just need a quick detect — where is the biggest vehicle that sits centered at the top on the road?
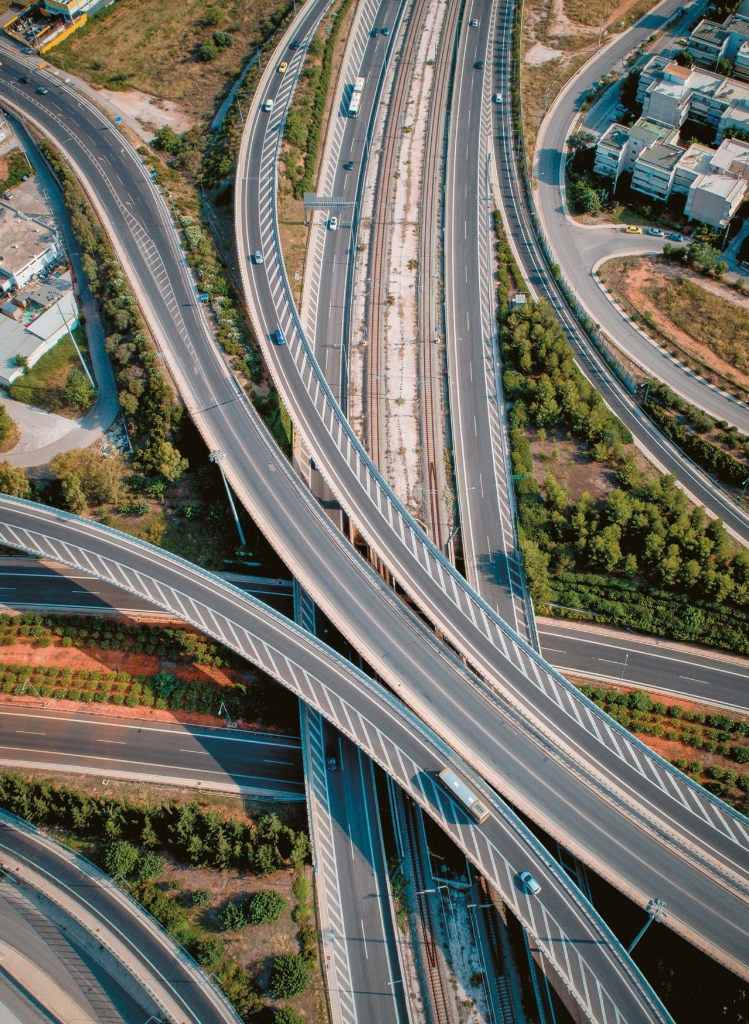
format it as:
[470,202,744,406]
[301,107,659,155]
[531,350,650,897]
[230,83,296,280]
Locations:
[348,76,367,119]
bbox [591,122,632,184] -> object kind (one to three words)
building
